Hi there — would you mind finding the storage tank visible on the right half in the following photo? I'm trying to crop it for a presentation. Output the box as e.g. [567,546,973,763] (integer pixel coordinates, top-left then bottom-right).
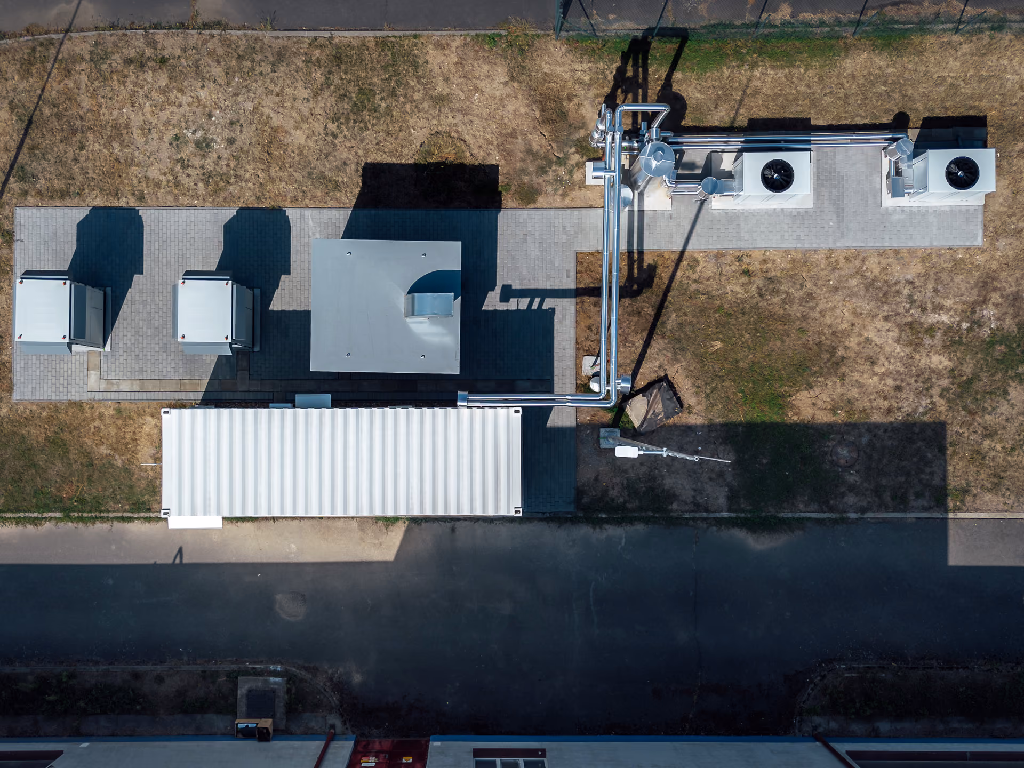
[632,141,676,189]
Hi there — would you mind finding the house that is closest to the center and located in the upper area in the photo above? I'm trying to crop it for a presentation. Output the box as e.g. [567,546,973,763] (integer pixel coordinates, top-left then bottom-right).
[310,239,461,373]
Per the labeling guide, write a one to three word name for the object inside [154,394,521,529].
shipping container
